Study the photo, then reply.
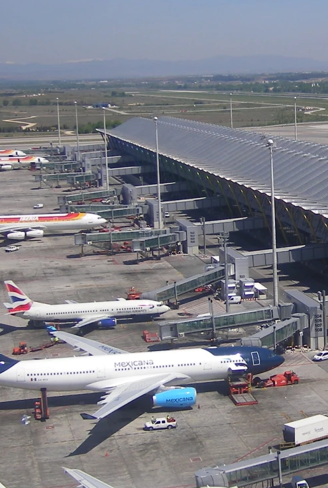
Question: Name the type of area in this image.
airport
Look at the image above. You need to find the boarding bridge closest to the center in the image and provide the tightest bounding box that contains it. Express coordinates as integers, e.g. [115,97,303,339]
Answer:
[131,232,189,261]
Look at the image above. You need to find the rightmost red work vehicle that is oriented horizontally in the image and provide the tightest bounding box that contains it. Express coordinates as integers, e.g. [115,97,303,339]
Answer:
[255,368,299,389]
